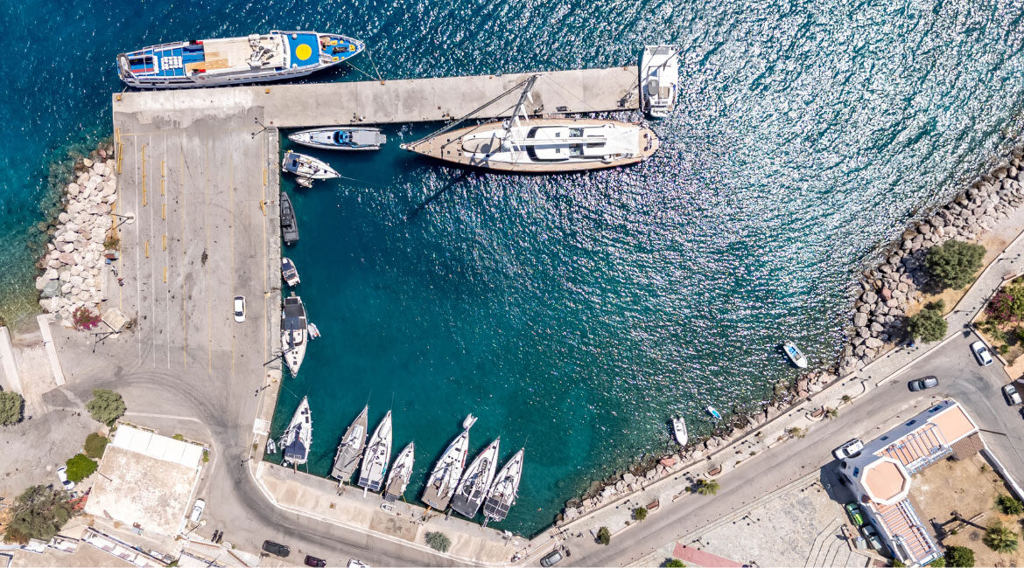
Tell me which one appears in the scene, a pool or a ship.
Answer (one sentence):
Looking from above, you can make out a ship.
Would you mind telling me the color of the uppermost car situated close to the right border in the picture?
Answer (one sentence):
From above, the uppermost car situated close to the right border appears white.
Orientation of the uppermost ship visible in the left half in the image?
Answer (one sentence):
From this overhead view, the uppermost ship visible in the left half appears to run from left to right.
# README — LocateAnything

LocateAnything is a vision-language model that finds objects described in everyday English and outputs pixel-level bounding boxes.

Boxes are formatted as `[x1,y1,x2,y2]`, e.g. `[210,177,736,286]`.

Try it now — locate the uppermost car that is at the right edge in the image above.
[971,339,993,368]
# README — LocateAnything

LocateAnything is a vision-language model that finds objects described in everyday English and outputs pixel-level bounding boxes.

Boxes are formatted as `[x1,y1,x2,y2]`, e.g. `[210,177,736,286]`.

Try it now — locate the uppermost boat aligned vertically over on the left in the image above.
[280,192,298,244]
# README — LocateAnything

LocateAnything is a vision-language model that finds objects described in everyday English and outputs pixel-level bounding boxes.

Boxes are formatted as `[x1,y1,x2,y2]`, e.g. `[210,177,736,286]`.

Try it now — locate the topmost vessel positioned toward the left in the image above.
[118,30,367,87]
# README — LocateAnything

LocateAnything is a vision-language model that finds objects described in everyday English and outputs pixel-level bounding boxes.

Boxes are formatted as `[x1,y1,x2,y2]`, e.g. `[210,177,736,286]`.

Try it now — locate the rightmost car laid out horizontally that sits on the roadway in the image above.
[907,376,937,391]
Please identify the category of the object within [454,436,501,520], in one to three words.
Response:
boat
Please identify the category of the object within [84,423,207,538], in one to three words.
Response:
building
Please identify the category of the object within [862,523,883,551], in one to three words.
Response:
car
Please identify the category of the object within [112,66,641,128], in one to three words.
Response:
pier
